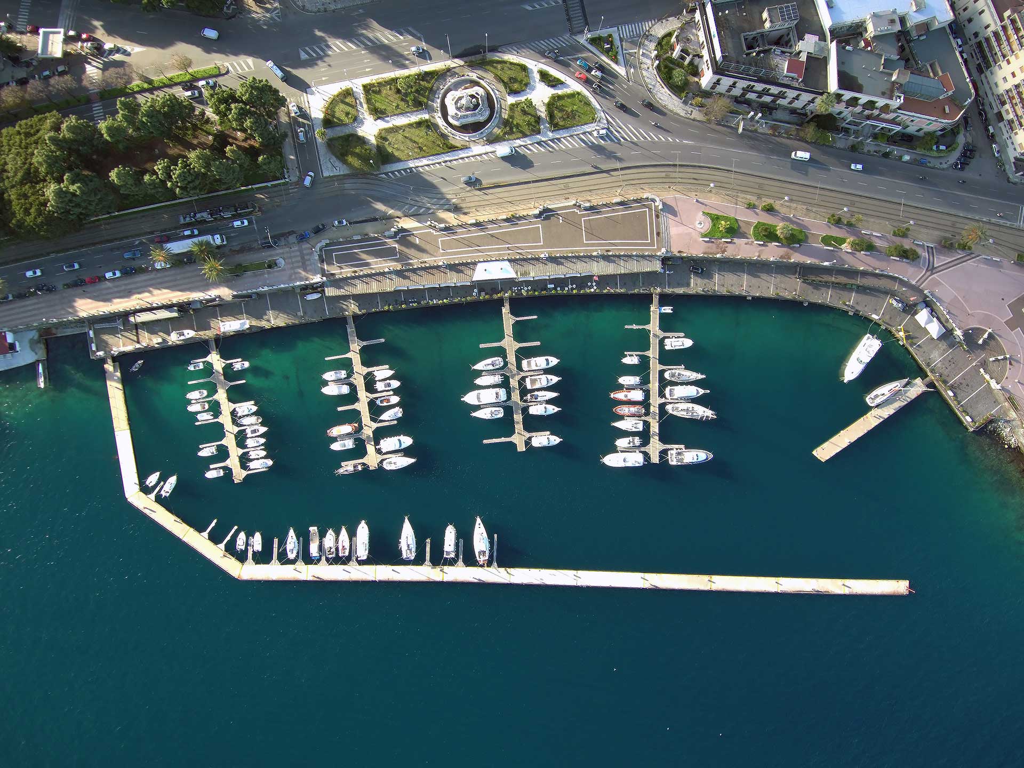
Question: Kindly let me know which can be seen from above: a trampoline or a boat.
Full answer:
I can see a boat in this picture.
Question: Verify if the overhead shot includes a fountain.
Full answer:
Yes, looking at the shot, I can spot a fountain.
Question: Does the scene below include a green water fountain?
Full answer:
No, no green water fountain can be seen from above.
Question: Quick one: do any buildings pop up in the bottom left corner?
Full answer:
No, I can find no building in the bottom left corner.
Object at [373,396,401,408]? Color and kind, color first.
white boat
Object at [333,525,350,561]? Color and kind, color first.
white boat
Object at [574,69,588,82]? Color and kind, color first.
red vehicle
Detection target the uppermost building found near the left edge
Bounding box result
[37,28,73,64]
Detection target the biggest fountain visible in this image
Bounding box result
[432,70,503,142]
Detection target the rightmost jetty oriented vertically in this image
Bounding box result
[616,293,692,463]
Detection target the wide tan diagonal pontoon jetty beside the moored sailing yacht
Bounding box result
[811,378,930,462]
